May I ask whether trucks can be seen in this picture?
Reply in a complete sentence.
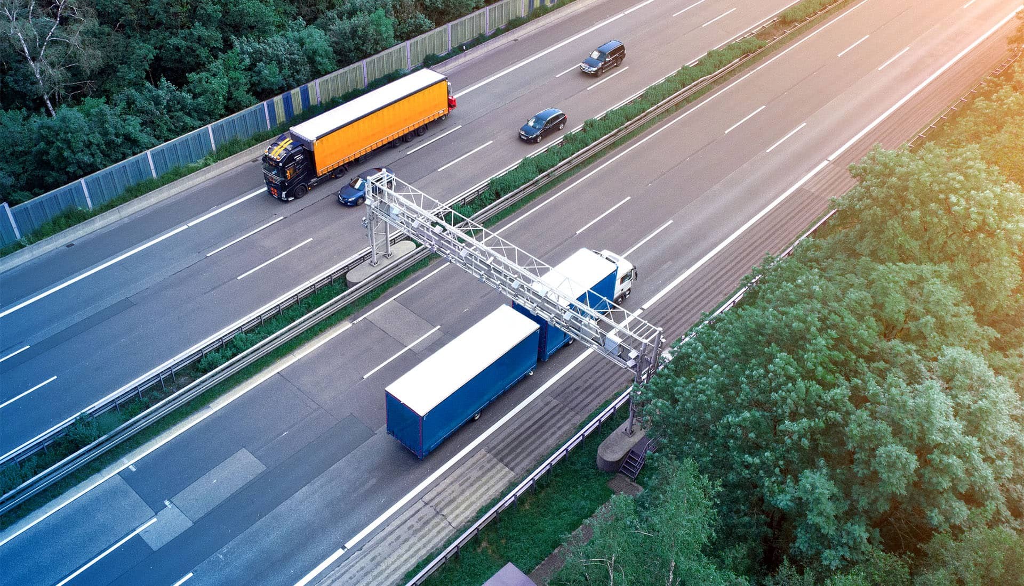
Yes, the picture does show a truck.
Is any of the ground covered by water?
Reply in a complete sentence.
No, the scene doesn't show any water.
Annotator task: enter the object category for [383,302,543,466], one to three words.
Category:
trailer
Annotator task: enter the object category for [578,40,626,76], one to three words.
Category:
car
